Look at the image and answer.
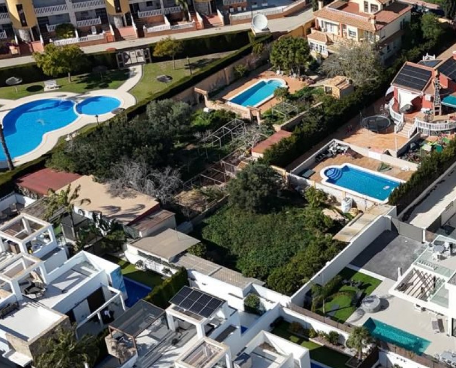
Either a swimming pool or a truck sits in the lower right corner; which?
swimming pool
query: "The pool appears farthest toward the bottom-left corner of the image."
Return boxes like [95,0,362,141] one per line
[120,272,156,308]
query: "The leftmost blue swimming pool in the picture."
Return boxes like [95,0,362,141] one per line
[0,97,81,163]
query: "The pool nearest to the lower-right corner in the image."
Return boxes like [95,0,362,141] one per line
[362,315,434,356]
